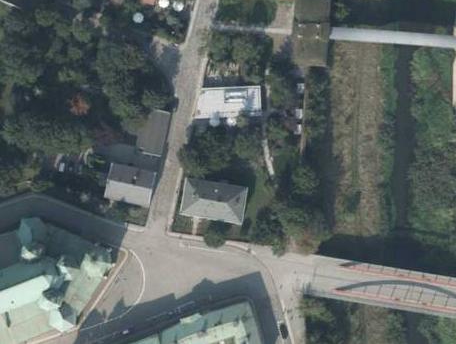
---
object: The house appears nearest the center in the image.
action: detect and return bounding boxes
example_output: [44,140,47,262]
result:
[180,177,248,226]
